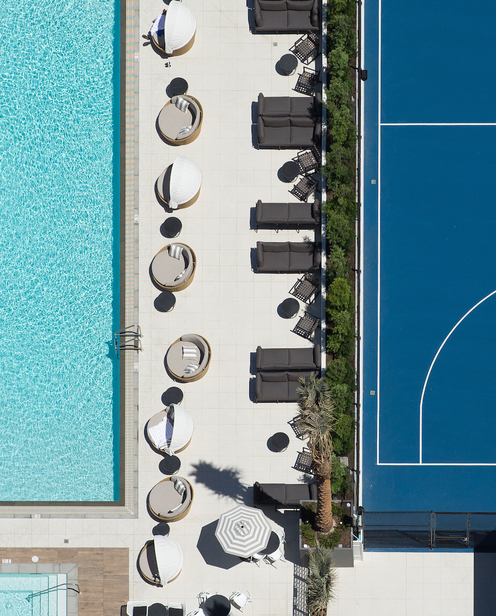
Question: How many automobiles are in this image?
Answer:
0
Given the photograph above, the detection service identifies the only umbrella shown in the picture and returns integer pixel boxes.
[214,506,270,563]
